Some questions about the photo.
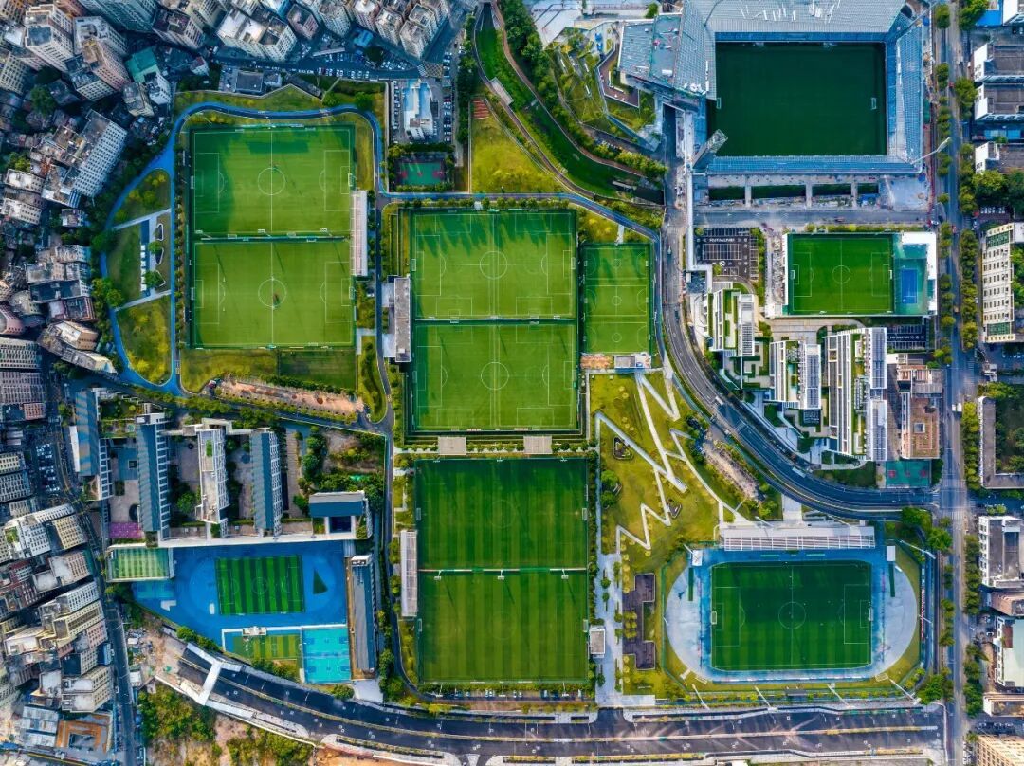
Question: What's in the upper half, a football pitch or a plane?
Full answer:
The feature located in the upper half is a football pitch.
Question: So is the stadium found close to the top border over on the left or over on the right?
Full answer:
It is on the right.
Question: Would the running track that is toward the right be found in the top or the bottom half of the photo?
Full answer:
The bottom half of the photo is where the running track that is toward the right is.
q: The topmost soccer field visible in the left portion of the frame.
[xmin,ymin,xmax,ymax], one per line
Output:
[192,129,353,234]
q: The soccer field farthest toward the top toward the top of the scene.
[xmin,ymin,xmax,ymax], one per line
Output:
[714,43,888,155]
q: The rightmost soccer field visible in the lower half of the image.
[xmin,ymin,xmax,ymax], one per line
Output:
[711,560,872,671]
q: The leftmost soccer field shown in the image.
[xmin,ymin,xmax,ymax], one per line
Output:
[113,549,166,577]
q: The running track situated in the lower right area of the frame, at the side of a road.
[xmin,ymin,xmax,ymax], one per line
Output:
[665,547,917,684]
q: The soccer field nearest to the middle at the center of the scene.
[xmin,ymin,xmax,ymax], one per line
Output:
[413,323,576,429]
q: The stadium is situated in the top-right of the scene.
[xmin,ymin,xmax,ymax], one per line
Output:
[618,0,931,177]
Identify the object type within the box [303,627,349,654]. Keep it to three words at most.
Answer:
basketball court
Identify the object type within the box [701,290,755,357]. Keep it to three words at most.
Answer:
building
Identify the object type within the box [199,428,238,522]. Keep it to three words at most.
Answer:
building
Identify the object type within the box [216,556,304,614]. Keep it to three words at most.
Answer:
soccer field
